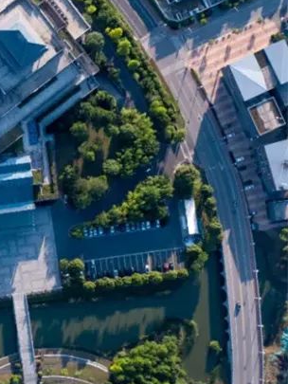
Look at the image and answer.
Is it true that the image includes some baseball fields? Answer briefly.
No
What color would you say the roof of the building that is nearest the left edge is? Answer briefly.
blue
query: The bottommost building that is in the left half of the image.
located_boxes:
[0,154,36,215]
